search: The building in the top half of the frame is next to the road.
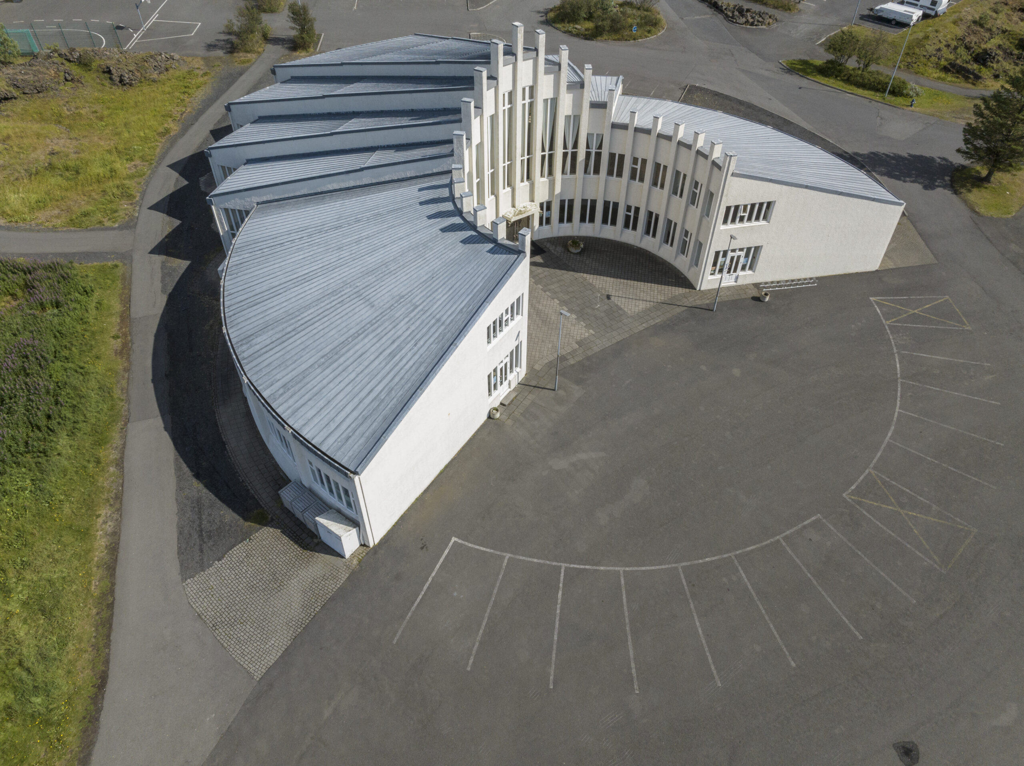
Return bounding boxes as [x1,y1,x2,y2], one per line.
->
[206,21,907,545]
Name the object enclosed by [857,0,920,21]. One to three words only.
trailer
